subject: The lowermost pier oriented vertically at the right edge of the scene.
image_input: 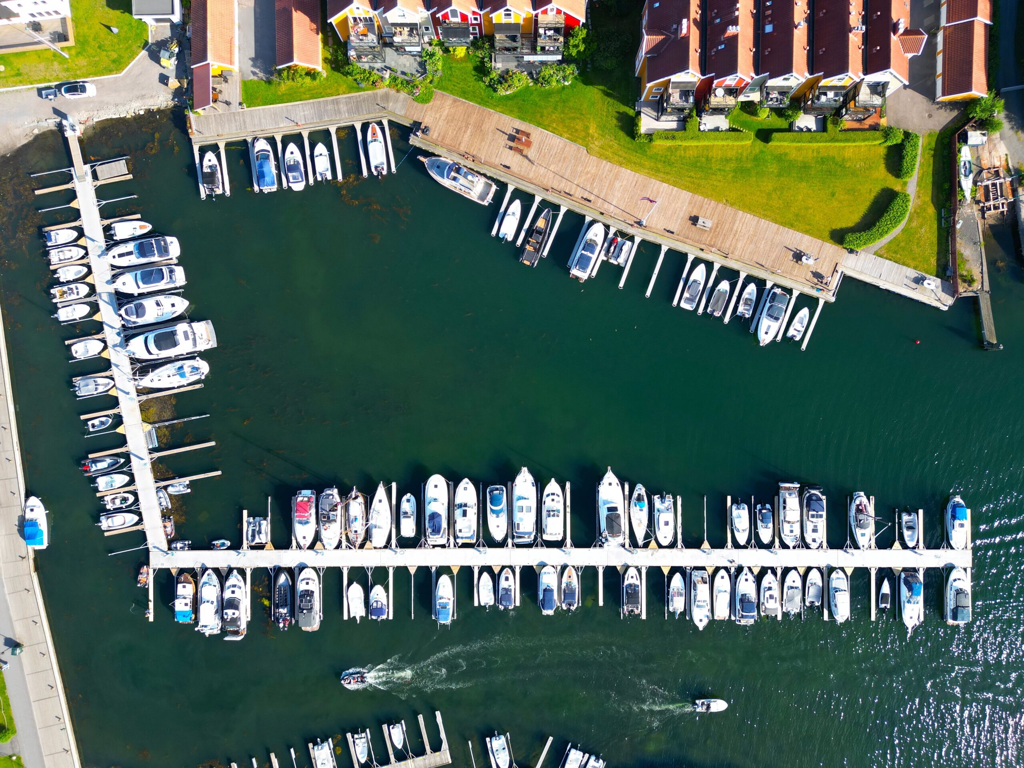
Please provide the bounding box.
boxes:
[974,292,1003,350]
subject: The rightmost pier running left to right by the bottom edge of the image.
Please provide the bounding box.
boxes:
[358,748,451,768]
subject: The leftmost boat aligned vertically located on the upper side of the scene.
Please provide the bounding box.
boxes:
[199,149,224,199]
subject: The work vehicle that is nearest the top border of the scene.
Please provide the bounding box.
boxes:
[155,34,183,68]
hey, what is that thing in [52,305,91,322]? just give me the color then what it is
white boat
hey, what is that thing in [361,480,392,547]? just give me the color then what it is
white boat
